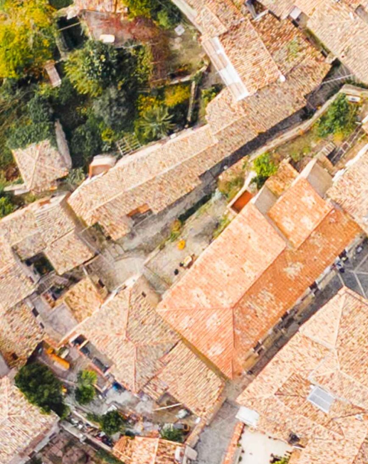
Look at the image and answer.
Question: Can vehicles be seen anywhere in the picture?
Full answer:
No, no vehicle is visible in the view.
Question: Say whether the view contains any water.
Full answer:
No, water can't be seen anywhere here.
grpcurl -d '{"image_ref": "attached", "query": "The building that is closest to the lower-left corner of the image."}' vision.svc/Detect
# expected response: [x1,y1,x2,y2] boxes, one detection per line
[0,374,60,464]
